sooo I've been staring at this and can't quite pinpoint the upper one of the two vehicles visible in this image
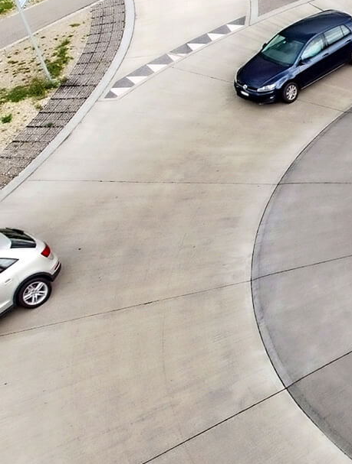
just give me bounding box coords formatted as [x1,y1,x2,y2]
[229,10,352,103]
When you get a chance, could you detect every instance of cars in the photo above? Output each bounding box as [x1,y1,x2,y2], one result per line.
[229,10,352,103]
[0,226,54,316]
